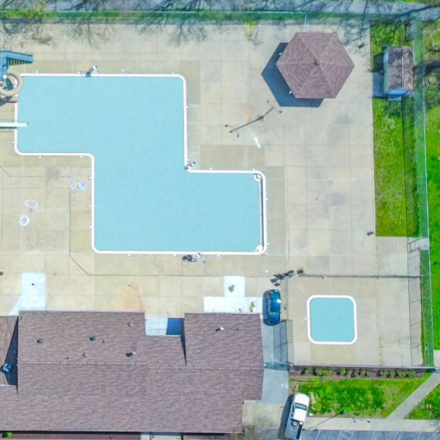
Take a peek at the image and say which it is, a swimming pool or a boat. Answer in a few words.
swimming pool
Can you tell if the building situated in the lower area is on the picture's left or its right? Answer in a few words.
left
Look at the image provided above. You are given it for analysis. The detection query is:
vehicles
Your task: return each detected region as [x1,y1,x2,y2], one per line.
[263,289,281,326]
[283,392,308,440]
